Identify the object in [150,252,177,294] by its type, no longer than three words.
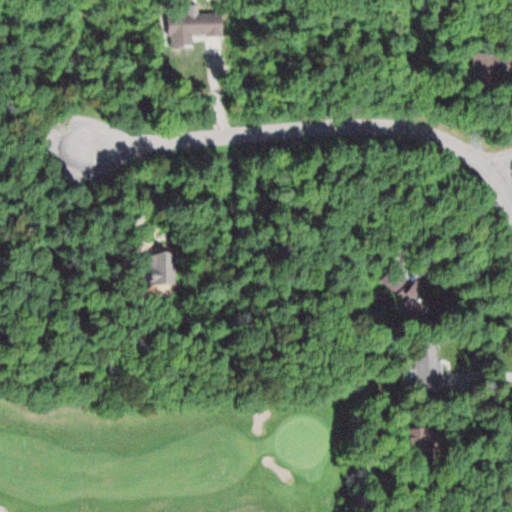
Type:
house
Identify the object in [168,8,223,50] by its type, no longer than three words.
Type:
house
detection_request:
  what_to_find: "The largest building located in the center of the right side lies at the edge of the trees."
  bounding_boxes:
[378,275,420,304]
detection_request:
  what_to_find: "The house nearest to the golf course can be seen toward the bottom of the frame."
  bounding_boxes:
[409,428,444,466]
